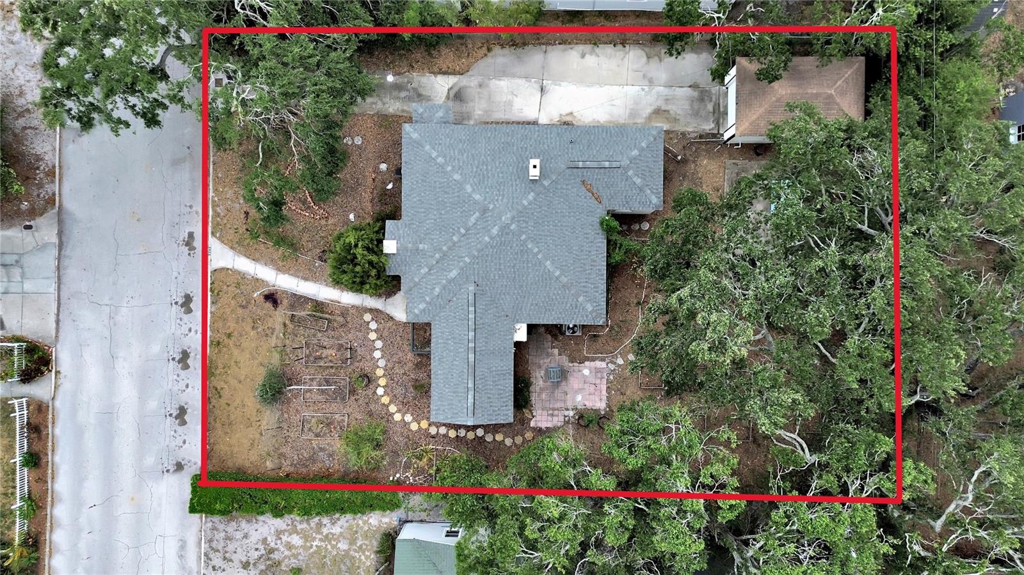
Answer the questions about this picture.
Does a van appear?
No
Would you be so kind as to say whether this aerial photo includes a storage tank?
No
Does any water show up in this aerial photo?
No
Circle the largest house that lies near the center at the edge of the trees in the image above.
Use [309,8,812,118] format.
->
[383,102,664,427]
